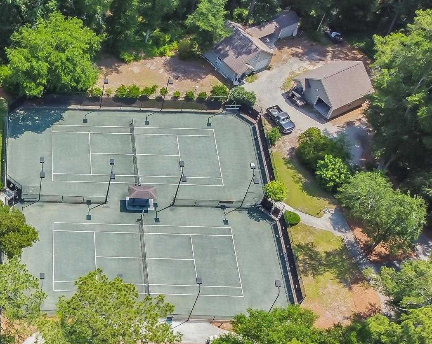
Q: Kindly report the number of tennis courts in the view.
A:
2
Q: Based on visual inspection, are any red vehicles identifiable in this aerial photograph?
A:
No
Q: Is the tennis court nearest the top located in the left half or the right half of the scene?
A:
left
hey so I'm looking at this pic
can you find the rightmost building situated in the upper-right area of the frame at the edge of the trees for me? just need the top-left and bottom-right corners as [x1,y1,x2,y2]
[287,58,377,120]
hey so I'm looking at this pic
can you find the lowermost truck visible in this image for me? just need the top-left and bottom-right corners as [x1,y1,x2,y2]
[265,101,295,132]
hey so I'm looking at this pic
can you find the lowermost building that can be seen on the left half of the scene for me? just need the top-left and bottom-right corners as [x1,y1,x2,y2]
[126,185,158,214]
